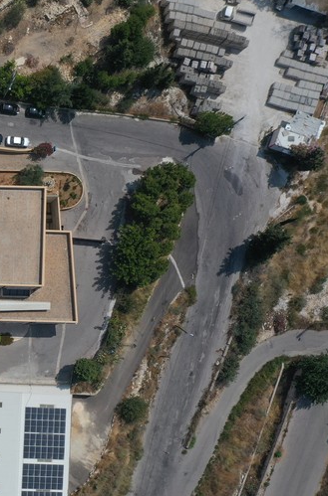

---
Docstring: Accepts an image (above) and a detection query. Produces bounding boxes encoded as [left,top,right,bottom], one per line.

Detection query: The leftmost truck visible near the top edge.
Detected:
[218,3,252,25]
